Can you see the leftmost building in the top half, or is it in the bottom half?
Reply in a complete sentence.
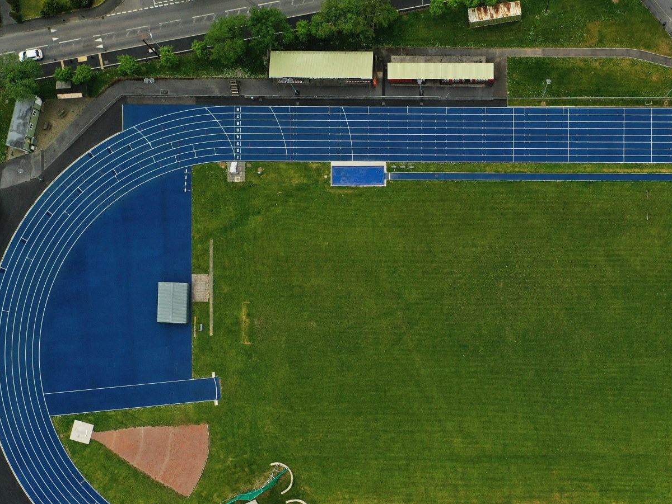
The top half of the photo is where the leftmost building is.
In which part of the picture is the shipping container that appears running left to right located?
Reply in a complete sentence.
The shipping container that appears running left to right is located in the top right region of the scene.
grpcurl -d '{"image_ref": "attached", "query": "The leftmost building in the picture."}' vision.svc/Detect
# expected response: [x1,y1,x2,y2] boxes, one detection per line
[5,94,44,152]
